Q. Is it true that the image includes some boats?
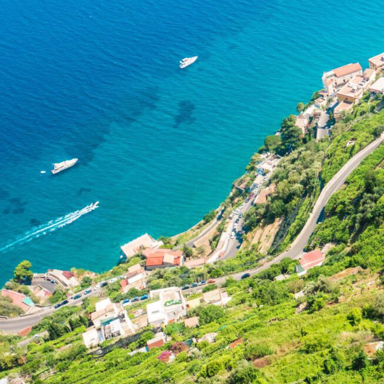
Yes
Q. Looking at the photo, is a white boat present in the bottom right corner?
No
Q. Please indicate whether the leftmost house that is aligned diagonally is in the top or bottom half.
bottom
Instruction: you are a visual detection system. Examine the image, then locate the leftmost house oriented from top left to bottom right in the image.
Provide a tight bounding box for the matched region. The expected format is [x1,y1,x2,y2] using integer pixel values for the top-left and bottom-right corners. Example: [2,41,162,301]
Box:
[3,287,36,316]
